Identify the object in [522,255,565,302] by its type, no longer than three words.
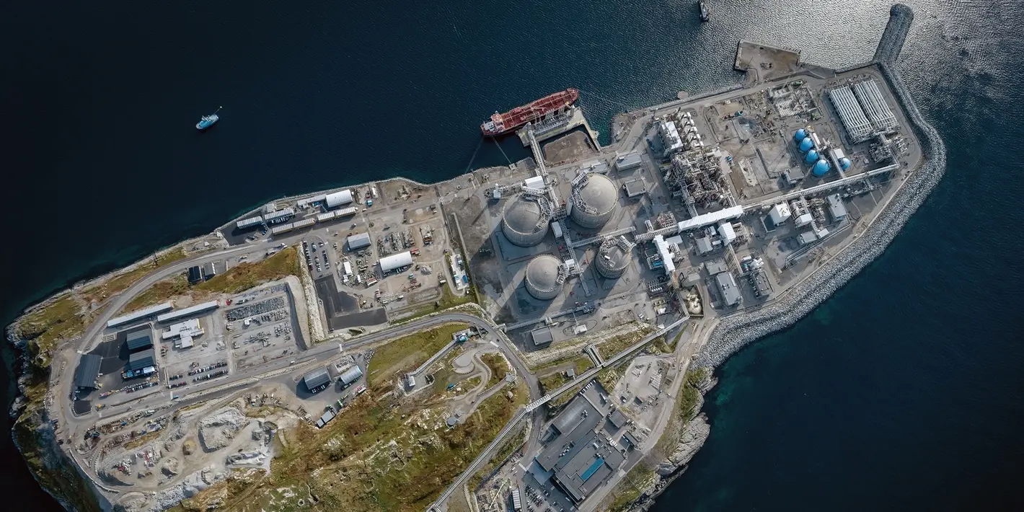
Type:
storage tank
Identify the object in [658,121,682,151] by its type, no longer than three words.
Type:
house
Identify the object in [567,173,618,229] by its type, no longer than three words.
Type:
storage tank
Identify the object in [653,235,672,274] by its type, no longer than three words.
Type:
building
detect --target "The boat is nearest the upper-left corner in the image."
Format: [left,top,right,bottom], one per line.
[196,115,221,129]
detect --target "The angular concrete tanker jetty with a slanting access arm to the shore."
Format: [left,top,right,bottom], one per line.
[515,107,601,152]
